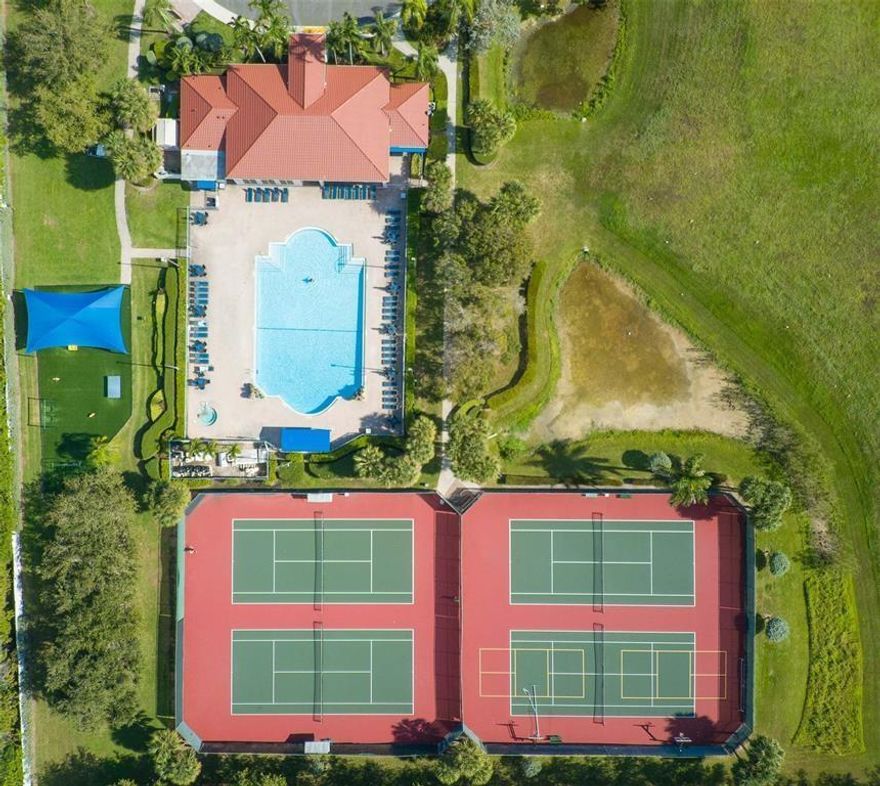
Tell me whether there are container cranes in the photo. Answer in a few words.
No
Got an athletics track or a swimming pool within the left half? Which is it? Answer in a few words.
swimming pool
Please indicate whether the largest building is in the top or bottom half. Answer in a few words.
top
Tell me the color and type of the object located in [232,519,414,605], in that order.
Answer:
green tennis court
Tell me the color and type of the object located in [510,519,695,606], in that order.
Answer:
green tennis court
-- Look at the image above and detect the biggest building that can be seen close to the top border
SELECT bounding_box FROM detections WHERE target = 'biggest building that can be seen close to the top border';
[180,33,430,191]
